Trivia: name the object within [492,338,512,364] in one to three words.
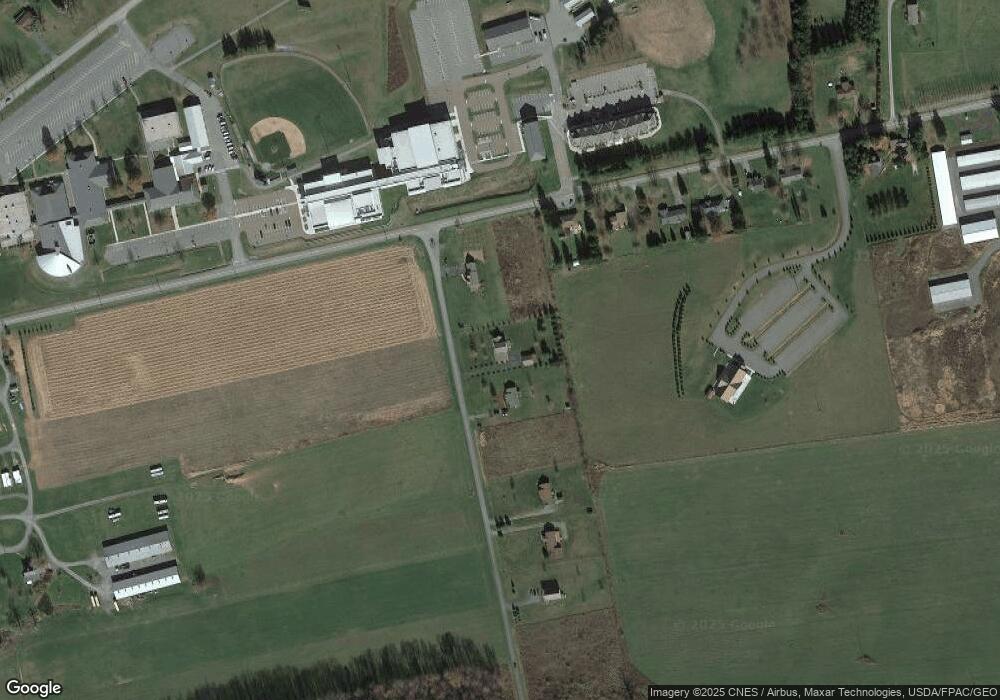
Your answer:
house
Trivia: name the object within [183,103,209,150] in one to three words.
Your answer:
building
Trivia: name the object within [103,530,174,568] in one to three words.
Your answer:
barn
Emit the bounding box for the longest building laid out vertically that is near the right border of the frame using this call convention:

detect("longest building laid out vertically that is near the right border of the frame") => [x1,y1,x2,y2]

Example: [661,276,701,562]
[932,149,958,226]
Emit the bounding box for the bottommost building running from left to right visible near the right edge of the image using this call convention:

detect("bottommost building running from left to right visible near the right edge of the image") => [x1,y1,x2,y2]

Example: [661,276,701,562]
[930,279,974,304]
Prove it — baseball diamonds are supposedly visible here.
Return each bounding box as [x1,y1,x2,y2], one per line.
[220,51,373,173]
